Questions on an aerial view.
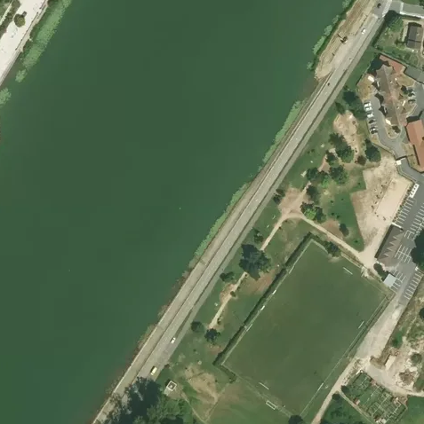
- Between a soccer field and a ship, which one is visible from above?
soccer field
